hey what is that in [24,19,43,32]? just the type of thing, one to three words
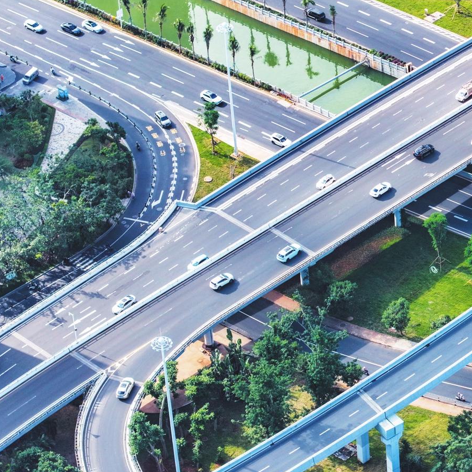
vehicle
